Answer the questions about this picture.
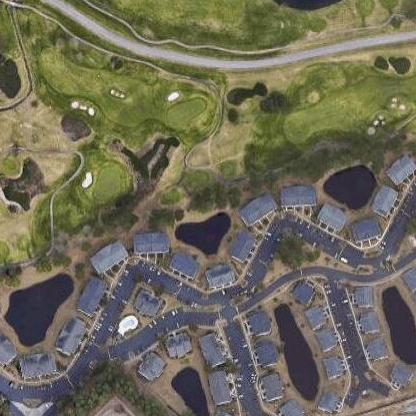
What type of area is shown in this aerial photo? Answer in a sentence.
It's a golf course.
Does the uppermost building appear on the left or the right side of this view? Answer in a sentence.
You can find the uppermost building on the right side of the picture.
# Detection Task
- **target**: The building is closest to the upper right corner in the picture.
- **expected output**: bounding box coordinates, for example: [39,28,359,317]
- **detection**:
[386,155,416,187]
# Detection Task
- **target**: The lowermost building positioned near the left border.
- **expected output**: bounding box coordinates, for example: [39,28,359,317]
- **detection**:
[21,353,58,380]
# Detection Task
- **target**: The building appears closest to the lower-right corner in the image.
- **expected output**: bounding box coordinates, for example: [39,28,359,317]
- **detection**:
[387,361,414,387]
